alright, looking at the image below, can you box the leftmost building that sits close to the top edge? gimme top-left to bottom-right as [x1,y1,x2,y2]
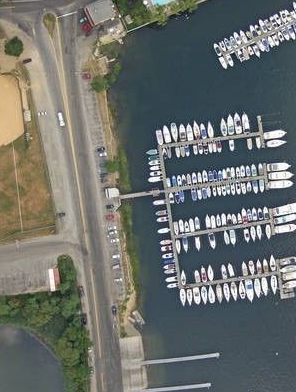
[82,0,115,27]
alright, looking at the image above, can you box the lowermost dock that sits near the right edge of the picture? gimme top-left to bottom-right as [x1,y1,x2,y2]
[181,259,296,299]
